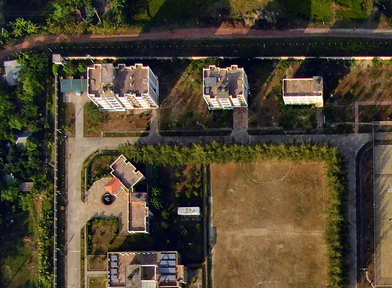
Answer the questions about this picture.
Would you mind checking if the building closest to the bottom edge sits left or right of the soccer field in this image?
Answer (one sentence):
The soccer field has the building closest to the bottom edge on its left side.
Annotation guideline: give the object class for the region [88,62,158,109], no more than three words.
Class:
building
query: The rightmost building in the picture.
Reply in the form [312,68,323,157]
[282,77,324,104]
